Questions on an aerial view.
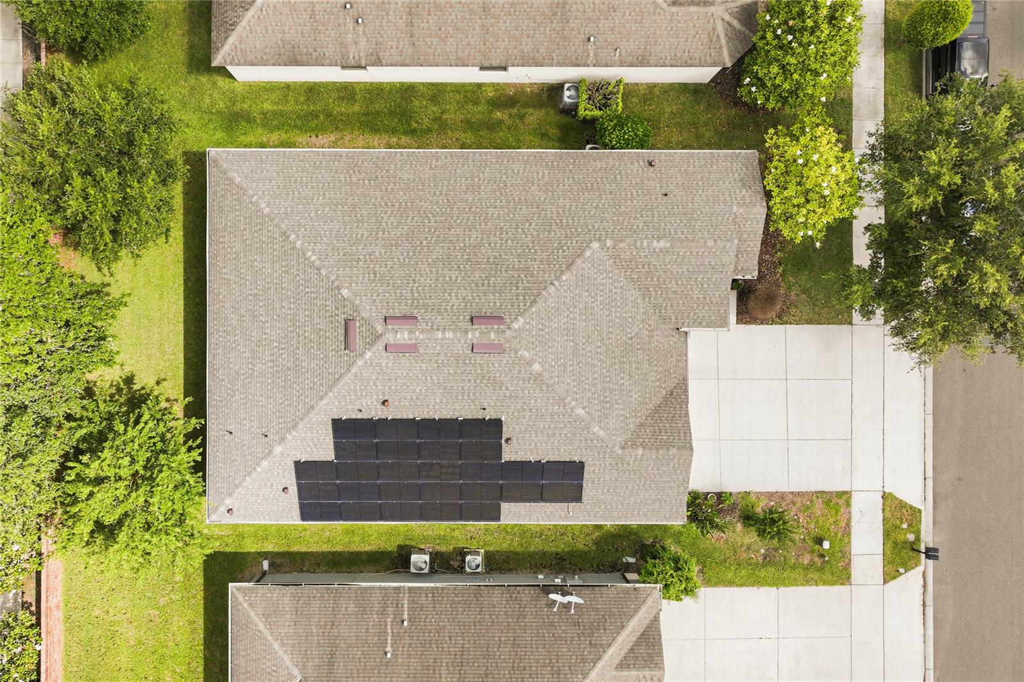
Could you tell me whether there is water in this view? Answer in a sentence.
No, there's no water in this view.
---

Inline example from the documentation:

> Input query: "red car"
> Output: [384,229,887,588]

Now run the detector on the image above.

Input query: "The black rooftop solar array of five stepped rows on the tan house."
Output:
[295,417,584,522]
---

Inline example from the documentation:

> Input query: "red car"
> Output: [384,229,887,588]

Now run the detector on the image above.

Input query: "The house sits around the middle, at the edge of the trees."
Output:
[205,148,767,525]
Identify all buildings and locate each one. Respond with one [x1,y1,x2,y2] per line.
[209,0,756,82]
[228,574,664,682]
[205,148,767,525]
